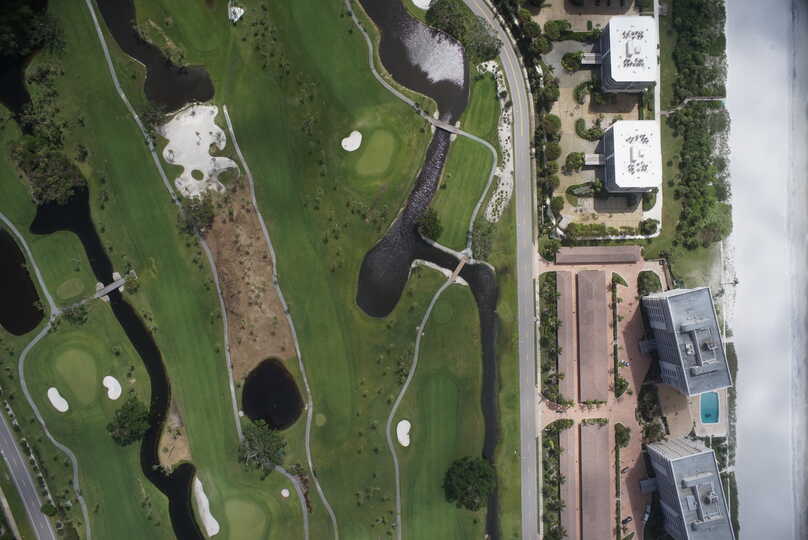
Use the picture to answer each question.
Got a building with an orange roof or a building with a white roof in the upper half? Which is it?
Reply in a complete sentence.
Looking in the upper half, you will find a building with a white roof.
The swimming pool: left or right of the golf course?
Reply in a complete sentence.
In the image, the swimming pool sits on the right side of the golf course.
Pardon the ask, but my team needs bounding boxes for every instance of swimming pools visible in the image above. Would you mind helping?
[700,390,720,425]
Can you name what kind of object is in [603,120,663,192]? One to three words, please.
building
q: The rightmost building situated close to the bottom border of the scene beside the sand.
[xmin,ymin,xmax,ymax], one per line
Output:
[637,438,735,540]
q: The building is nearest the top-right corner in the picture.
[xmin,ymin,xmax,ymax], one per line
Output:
[600,16,657,91]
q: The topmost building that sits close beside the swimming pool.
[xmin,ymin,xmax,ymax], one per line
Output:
[634,287,732,396]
